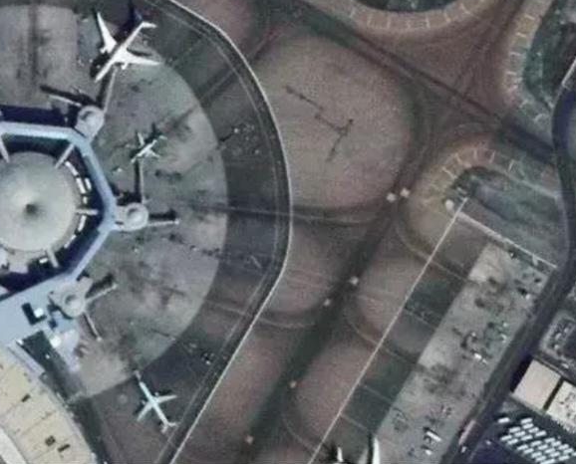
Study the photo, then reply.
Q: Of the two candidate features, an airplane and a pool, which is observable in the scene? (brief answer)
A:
airplane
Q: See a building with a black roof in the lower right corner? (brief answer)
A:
No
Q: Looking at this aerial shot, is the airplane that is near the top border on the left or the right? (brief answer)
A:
left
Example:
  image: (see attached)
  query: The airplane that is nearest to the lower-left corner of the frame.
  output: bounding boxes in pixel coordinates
[137,382,176,429]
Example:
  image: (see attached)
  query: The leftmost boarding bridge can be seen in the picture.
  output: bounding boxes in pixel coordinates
[47,95,82,109]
